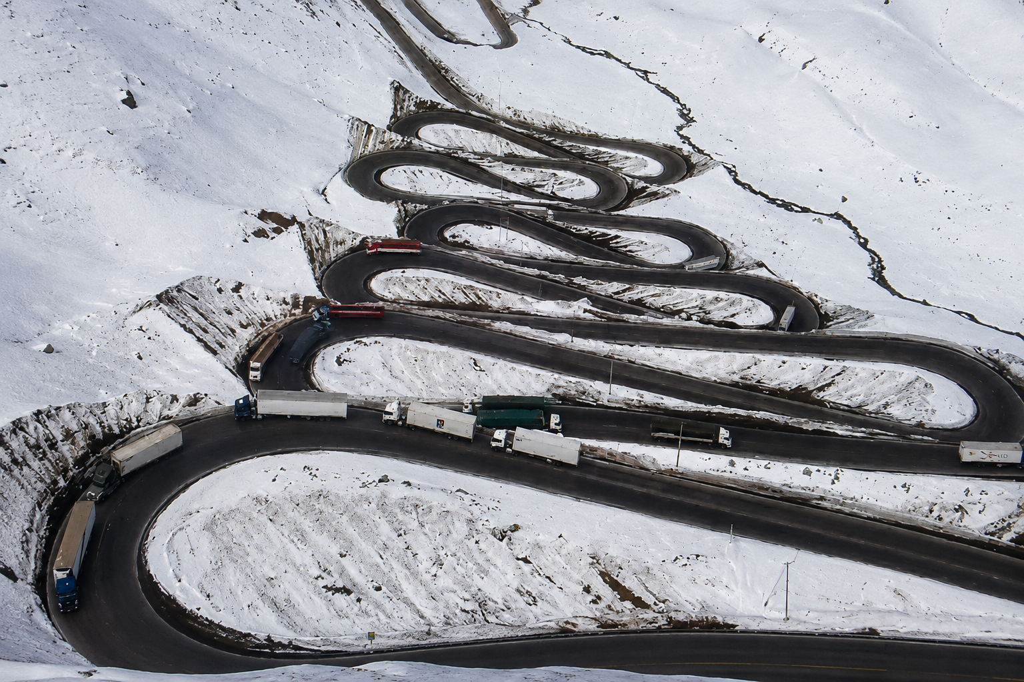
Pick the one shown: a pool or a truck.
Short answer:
truck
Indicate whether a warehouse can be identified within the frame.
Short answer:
No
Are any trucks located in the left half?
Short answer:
Yes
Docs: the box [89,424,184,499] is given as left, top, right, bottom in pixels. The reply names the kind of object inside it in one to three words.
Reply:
truck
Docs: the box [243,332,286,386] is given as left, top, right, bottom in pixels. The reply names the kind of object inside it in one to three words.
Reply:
truck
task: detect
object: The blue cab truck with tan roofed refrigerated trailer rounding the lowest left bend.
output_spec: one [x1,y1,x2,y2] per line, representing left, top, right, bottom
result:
[53,499,99,606]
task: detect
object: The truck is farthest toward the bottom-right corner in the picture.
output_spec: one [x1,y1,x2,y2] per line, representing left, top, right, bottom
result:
[959,438,1024,469]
